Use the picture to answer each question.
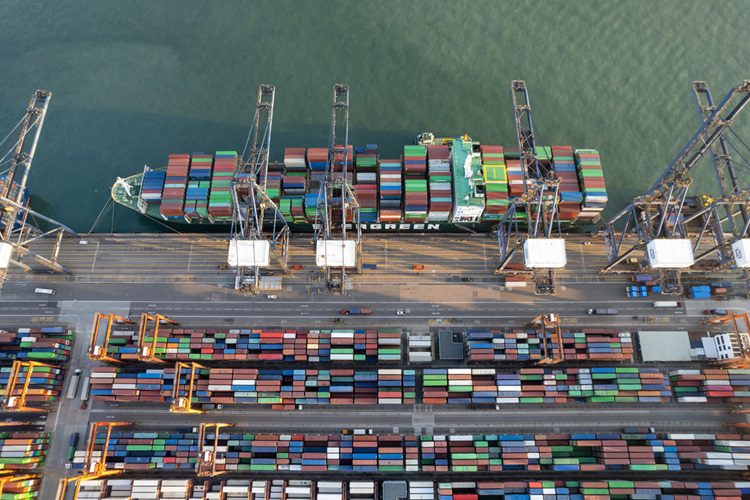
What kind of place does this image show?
port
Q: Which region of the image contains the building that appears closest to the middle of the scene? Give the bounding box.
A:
[437,329,464,360]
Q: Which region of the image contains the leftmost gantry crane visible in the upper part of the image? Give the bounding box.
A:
[0,86,83,277]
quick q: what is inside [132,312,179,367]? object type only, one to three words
container crane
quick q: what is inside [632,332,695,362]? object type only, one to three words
building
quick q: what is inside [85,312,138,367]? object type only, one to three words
container crane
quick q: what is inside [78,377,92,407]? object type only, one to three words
vehicle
